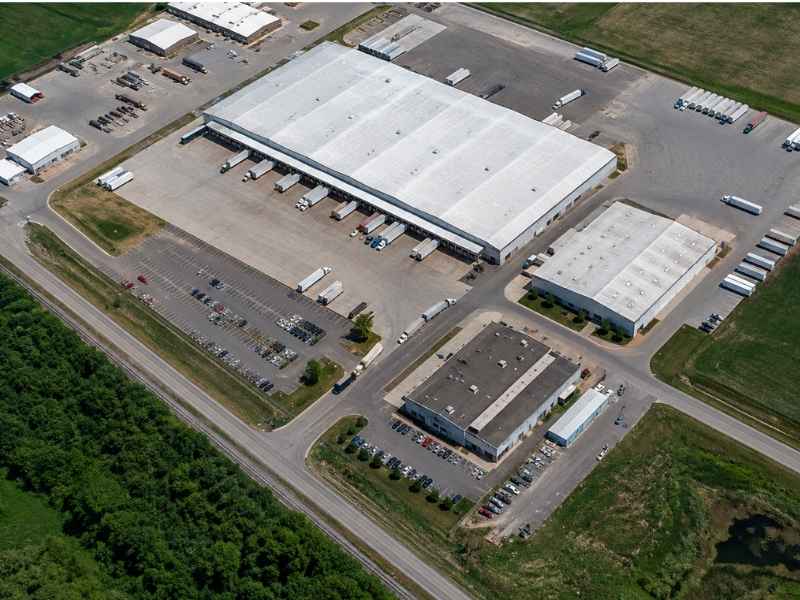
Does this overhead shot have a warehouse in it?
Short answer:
Yes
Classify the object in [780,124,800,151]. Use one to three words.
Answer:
vehicle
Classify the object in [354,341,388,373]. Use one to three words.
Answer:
truck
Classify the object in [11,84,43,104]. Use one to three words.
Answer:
shed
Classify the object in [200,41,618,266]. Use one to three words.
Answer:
warehouse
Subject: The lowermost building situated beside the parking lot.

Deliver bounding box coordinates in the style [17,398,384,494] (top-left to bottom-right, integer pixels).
[402,320,581,462]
